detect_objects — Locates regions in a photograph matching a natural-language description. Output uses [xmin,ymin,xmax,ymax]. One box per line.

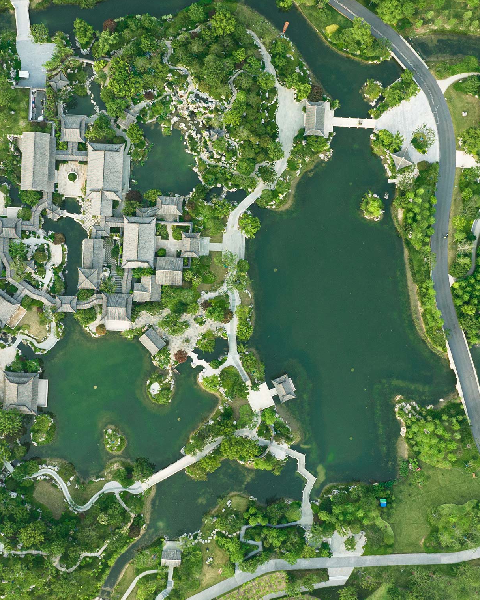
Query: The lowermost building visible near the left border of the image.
[1,369,43,416]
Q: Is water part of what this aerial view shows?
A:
Yes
